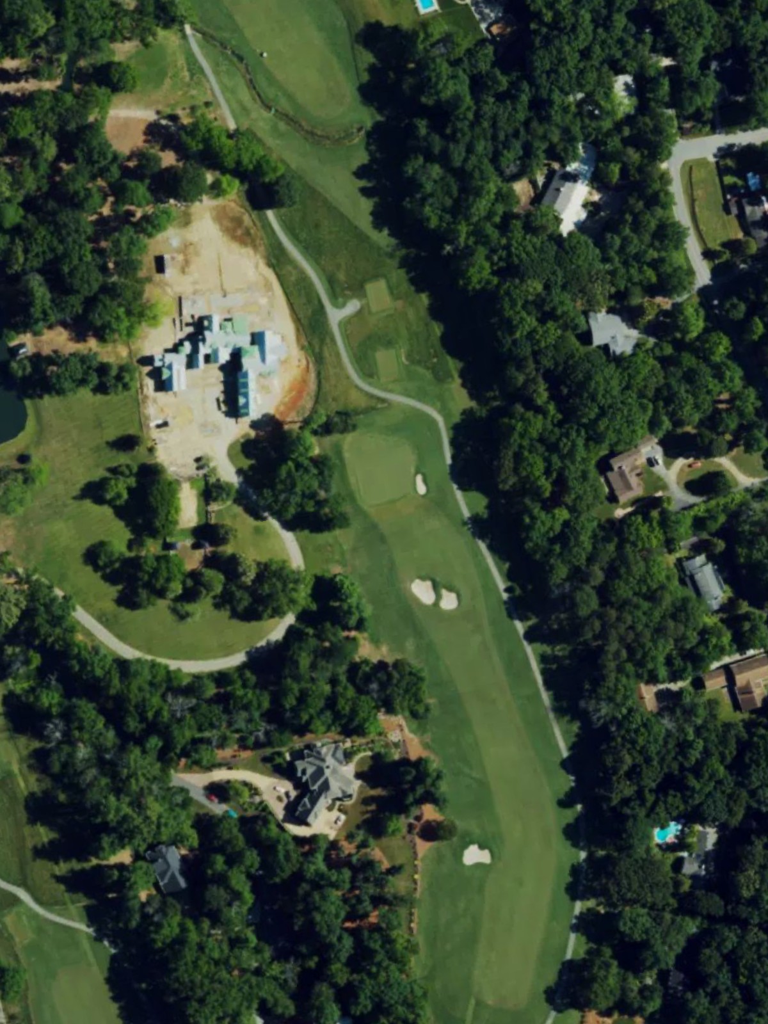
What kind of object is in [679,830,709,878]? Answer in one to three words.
building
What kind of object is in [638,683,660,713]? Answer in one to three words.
house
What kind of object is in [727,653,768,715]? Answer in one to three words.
house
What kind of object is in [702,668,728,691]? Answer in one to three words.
building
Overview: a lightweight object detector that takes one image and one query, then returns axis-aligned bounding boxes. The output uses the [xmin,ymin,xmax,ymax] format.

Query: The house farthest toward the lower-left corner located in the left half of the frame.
[143,842,187,894]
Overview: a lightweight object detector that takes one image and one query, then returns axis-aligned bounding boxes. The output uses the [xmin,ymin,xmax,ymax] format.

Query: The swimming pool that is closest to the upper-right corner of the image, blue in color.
[746,171,761,192]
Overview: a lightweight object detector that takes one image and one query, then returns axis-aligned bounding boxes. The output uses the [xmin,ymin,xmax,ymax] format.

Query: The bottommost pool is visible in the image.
[655,821,681,844]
